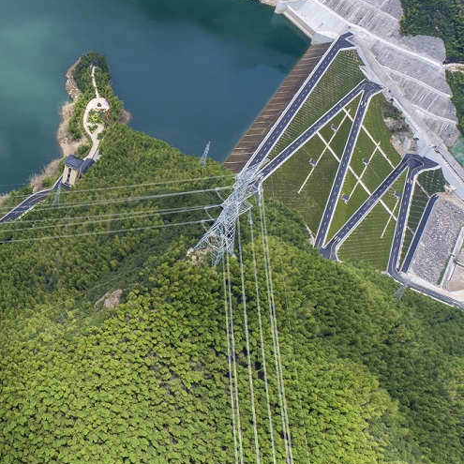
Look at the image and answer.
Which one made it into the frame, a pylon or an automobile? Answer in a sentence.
The image shows a pylon.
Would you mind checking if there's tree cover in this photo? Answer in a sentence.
Yes, tree cover can be seen from above here.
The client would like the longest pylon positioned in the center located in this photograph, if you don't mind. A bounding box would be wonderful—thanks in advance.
[194,165,259,265]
